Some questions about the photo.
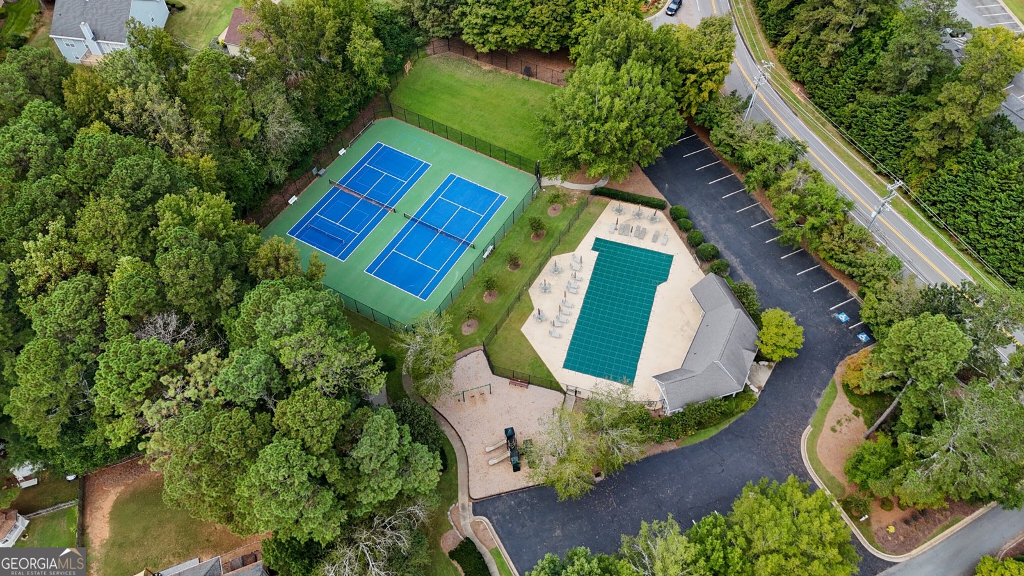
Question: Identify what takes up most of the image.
trees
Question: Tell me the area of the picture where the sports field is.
top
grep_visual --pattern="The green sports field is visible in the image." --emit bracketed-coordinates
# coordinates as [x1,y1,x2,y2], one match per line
[394,53,631,176]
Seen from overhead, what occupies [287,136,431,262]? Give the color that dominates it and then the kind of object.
blue tennis court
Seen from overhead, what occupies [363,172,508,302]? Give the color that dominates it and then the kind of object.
blue tennis court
